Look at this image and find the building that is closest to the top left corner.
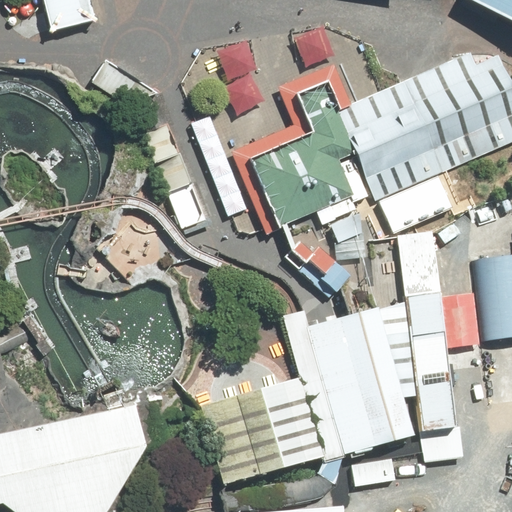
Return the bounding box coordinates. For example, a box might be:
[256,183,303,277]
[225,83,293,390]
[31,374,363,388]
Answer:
[43,0,94,32]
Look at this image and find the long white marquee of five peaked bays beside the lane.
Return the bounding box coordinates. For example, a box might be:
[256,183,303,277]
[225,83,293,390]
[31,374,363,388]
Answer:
[192,118,246,216]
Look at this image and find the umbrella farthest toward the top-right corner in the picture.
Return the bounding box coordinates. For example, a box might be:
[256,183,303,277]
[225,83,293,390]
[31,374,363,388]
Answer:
[295,26,334,68]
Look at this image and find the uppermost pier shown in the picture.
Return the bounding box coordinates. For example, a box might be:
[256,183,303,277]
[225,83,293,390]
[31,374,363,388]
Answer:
[31,148,64,181]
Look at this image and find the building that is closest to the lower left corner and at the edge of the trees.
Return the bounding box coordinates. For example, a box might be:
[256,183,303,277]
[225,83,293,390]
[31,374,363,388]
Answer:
[0,403,147,512]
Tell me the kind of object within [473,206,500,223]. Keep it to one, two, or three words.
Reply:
vehicle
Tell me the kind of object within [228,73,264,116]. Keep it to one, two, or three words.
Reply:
umbrella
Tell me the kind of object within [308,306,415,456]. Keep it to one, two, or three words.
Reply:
building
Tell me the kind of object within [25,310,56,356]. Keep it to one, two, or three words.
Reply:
shed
